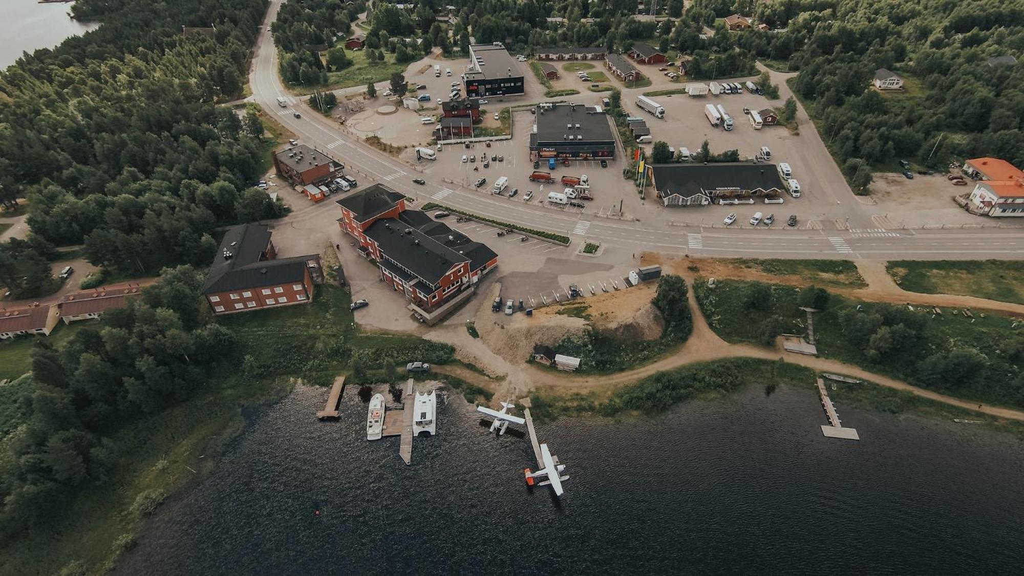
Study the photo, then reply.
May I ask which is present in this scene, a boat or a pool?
boat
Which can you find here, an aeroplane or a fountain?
aeroplane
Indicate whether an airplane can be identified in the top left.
No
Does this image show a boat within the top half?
No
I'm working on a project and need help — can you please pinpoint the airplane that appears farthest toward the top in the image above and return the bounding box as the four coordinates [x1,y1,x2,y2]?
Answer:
[477,393,526,435]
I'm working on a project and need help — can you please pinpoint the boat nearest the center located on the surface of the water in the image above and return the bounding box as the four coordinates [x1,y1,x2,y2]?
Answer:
[414,391,436,440]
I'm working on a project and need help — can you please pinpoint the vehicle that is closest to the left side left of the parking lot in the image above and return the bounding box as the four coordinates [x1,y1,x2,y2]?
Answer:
[60,266,73,279]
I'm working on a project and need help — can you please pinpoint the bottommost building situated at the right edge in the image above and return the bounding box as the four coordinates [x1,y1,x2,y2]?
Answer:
[961,160,1024,215]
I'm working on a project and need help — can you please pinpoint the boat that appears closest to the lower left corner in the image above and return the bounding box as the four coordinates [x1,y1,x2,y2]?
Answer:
[367,390,385,445]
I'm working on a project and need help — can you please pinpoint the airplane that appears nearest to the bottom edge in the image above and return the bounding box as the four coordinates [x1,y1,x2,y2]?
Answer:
[523,443,571,496]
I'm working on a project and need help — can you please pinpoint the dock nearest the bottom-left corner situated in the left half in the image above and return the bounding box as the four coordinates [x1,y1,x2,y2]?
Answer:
[317,377,346,418]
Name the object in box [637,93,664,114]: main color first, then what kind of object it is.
white truck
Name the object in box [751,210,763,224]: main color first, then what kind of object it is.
white vehicle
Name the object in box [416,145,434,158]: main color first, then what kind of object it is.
white vehicle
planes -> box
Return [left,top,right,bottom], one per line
[477,393,526,435]
[523,443,571,496]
